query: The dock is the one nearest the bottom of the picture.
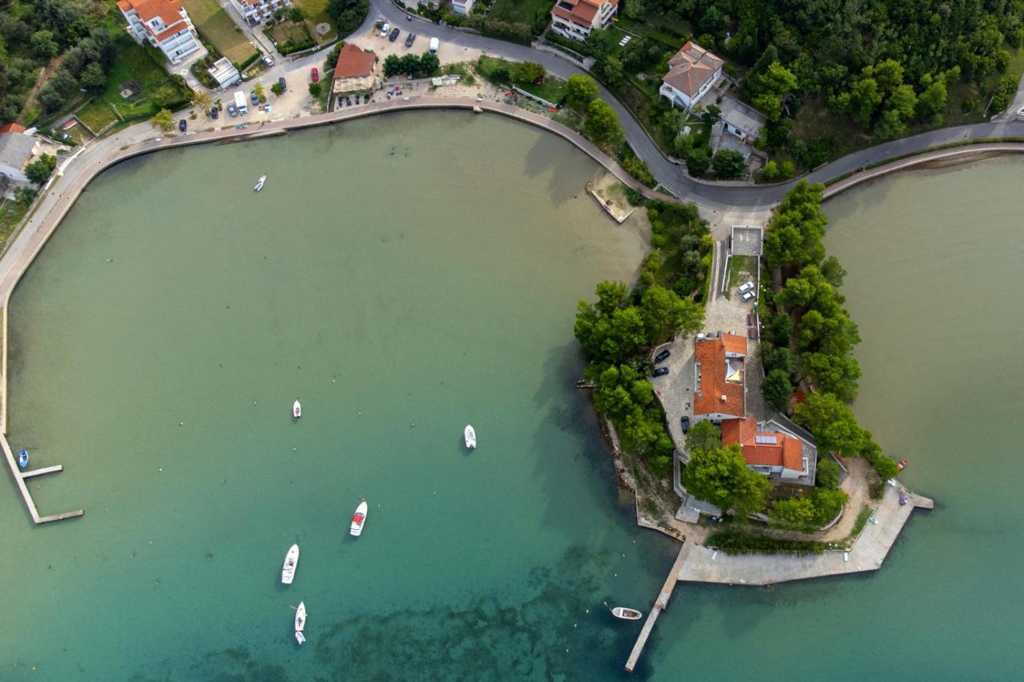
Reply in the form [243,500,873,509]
[624,542,687,674]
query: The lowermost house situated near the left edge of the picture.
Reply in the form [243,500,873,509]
[0,132,45,186]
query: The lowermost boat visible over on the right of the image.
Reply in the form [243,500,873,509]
[612,606,642,619]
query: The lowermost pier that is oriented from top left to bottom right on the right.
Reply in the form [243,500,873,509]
[899,483,934,511]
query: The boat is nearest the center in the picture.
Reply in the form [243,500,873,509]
[464,424,476,451]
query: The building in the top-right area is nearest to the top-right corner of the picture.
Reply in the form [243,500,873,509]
[720,91,780,140]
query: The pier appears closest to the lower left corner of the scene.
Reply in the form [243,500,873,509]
[0,432,86,528]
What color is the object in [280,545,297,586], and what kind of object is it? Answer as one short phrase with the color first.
white boat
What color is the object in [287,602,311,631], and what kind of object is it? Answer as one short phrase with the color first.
white boat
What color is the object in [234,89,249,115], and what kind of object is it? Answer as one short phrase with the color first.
white camper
